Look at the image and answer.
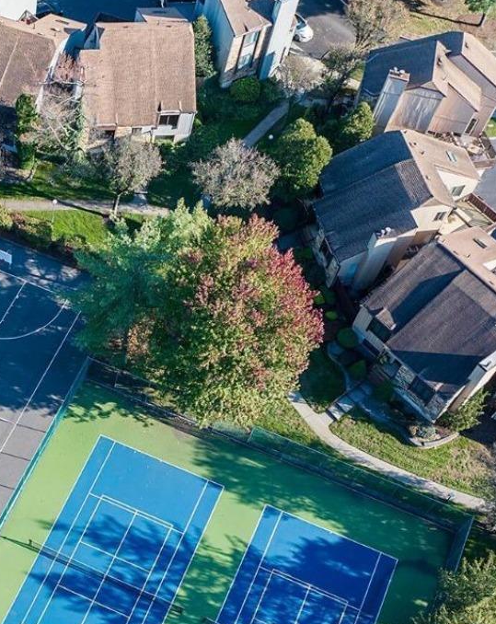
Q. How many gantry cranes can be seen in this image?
0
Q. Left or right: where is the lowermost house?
right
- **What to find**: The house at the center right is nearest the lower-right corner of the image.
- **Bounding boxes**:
[353,229,496,421]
